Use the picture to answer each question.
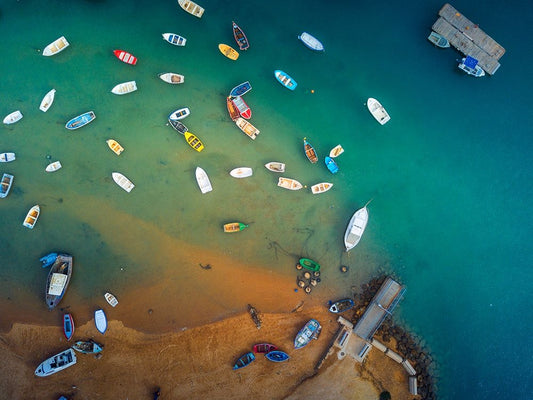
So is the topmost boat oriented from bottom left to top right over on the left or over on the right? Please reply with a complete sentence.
The topmost boat oriented from bottom left to top right is on the left side of the image.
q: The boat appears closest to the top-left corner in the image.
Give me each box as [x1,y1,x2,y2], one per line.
[42,35,70,56]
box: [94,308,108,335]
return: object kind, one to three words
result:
boat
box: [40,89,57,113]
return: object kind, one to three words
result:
boat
